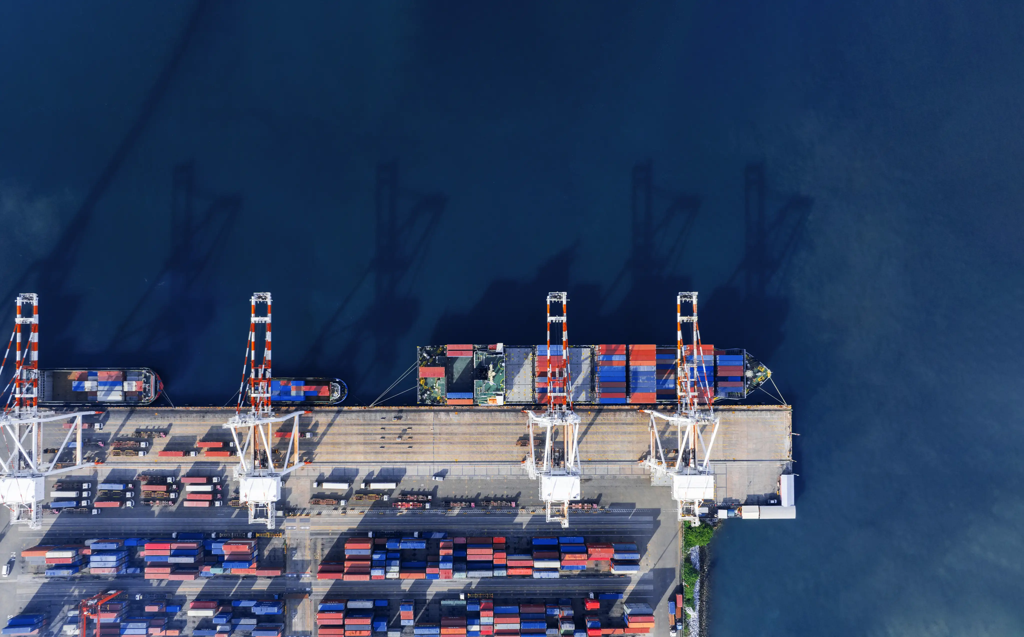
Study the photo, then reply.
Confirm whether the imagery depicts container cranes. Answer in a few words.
Yes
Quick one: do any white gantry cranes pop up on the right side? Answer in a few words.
Yes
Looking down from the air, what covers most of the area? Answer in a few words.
water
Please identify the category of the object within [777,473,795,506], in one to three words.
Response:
shed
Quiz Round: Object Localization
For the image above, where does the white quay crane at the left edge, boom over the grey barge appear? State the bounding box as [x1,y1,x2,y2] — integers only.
[0,294,113,531]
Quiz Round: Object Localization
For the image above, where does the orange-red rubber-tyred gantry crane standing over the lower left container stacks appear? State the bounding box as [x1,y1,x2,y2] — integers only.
[80,587,127,637]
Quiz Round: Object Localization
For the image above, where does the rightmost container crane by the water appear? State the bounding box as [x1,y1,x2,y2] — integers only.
[631,291,730,528]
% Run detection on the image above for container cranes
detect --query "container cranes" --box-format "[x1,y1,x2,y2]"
[518,292,588,529]
[80,587,127,637]
[221,293,316,530]
[631,291,730,528]
[0,294,113,531]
